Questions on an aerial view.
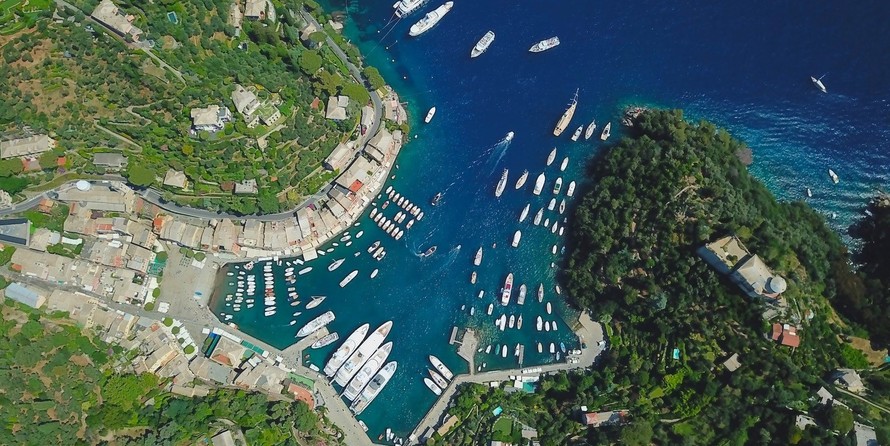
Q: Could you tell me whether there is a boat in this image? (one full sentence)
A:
Yes, the image includes a boat.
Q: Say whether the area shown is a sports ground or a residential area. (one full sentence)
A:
It's a residential area.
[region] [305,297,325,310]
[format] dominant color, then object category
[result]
white boat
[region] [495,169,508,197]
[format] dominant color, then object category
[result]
white boat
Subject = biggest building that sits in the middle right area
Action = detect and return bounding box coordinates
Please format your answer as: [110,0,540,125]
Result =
[694,235,788,299]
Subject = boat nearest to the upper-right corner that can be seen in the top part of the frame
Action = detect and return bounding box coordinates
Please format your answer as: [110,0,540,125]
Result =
[812,76,837,93]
